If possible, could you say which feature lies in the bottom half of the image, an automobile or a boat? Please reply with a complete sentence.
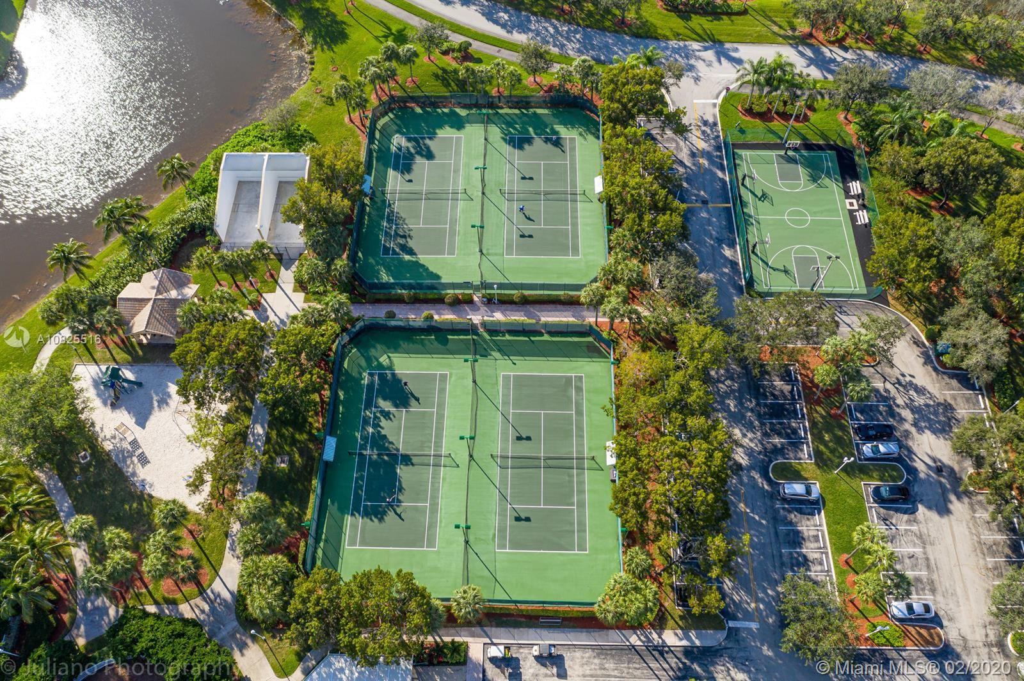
There is an automobile in the bottom half of the image.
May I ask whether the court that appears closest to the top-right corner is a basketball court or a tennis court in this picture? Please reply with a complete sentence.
Specifically, the court that appears closest to the top-right corner is a basketball court.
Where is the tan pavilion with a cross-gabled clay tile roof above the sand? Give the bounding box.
[116,267,207,347]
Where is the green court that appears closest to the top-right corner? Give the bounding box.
[731,143,890,305]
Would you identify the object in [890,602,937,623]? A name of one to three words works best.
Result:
car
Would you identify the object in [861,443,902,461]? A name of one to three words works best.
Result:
car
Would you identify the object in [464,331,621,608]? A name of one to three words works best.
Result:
tennis court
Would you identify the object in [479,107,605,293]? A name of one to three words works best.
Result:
tennis court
